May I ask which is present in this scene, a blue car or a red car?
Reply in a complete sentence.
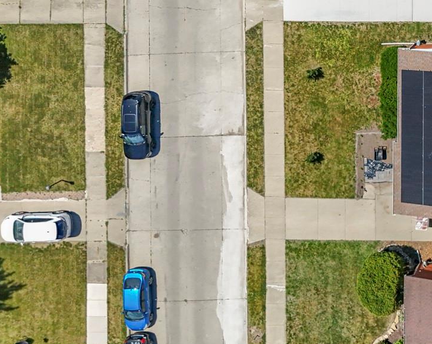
I can see a blue car in this picture.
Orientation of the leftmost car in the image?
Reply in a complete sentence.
In this picture, the leftmost car is oriented from left to right.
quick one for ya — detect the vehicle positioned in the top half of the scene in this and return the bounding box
[118,88,158,158]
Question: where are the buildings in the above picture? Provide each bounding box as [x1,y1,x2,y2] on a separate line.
[404,251,432,344]
[382,42,432,231]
